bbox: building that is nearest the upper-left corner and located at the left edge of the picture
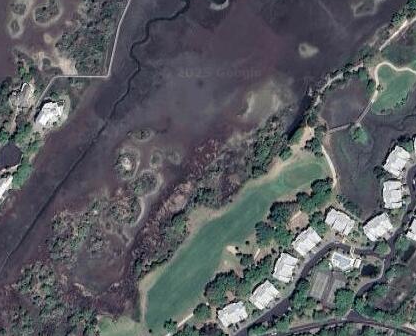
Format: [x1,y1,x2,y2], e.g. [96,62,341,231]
[11,80,34,105]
